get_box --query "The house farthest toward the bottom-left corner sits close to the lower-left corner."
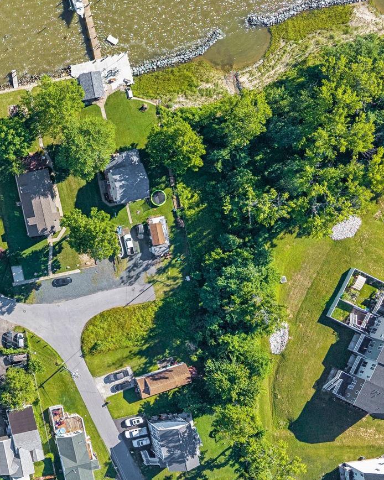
[0,438,34,480]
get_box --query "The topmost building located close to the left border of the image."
[15,169,61,237]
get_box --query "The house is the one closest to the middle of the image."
[148,216,169,255]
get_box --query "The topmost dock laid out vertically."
[83,0,104,61]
